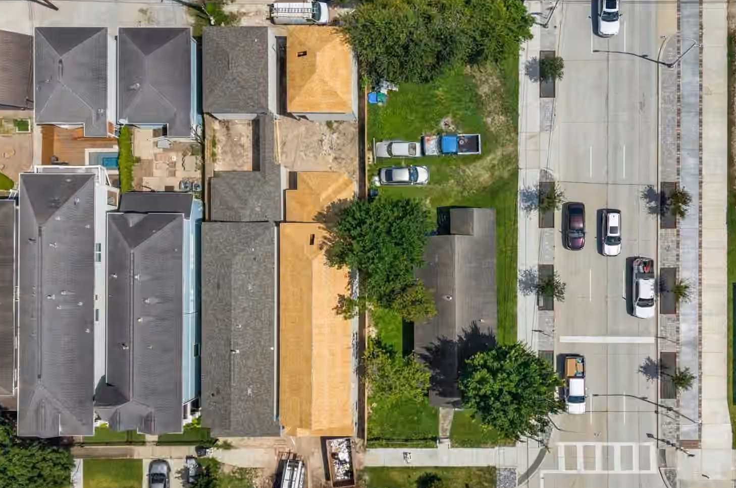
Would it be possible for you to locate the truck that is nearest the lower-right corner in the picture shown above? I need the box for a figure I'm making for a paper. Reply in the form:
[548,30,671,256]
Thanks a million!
[563,354,589,414]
